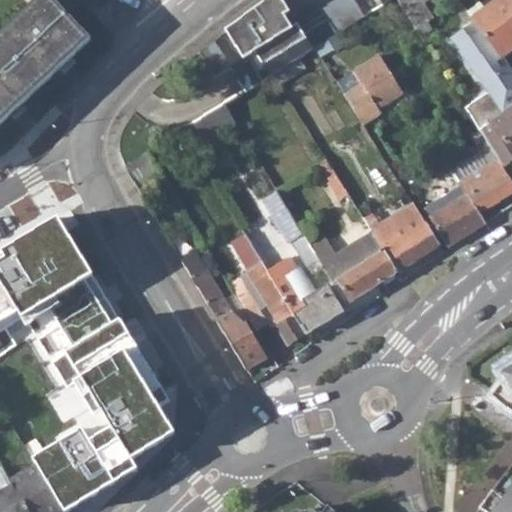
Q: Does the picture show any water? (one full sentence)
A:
No, there is no water in the image.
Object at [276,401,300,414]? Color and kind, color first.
white vehicle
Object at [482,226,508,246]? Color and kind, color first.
white vehicle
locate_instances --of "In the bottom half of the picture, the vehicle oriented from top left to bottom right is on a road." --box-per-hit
[252,404,270,424]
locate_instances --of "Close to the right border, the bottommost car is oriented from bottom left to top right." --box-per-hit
[474,305,496,323]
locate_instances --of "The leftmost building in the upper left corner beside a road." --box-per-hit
[0,0,92,129]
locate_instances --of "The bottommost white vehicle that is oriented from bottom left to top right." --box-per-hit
[368,410,396,432]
